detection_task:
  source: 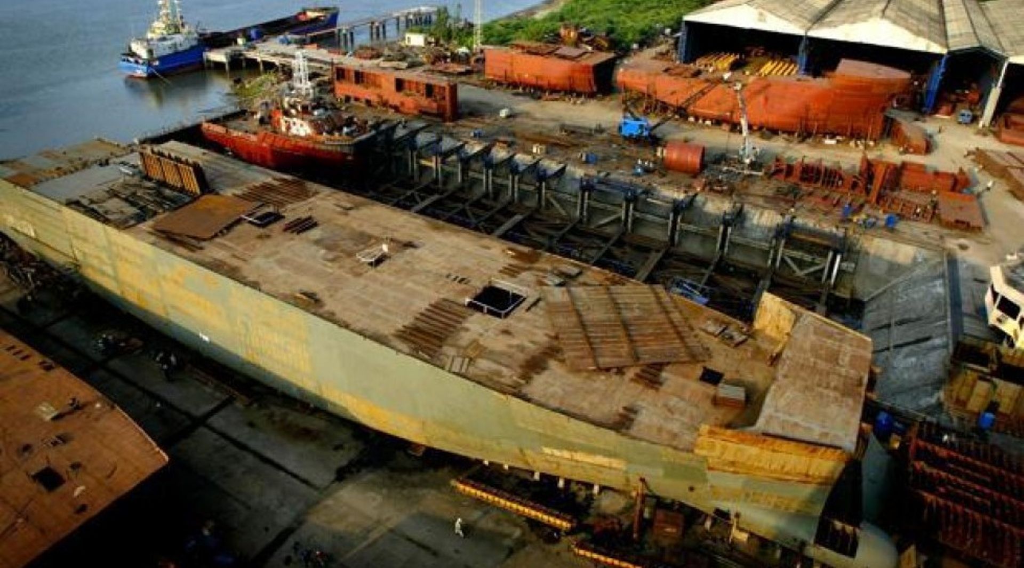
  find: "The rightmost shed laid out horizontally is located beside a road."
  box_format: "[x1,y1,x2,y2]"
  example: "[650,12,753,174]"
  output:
[676,0,950,111]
